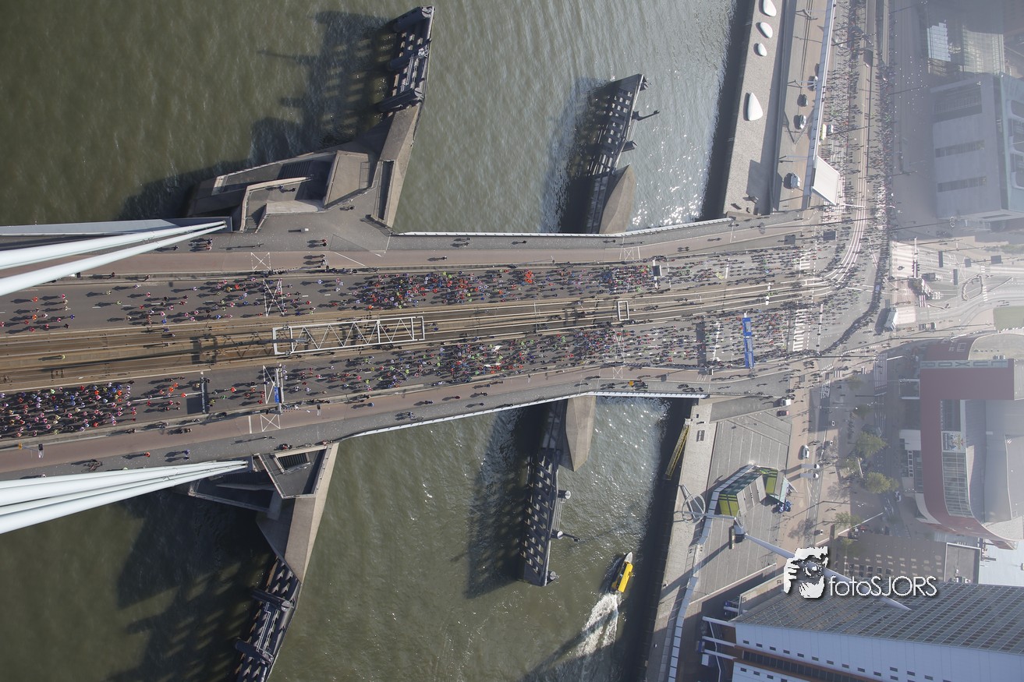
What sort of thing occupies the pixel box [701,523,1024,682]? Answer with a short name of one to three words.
building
